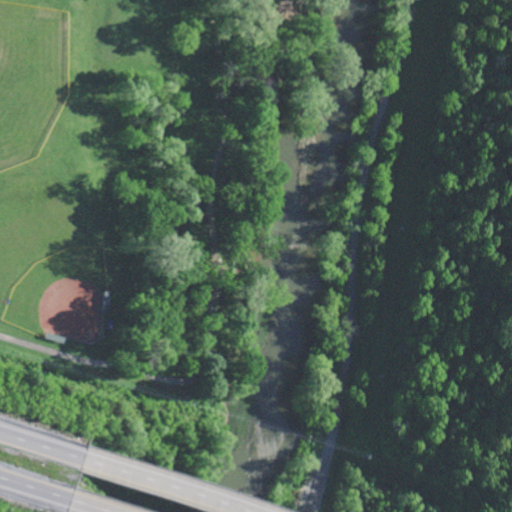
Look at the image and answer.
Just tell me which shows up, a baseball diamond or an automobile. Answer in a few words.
baseball diamond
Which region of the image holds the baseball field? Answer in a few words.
left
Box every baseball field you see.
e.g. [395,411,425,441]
[2,248,107,344]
